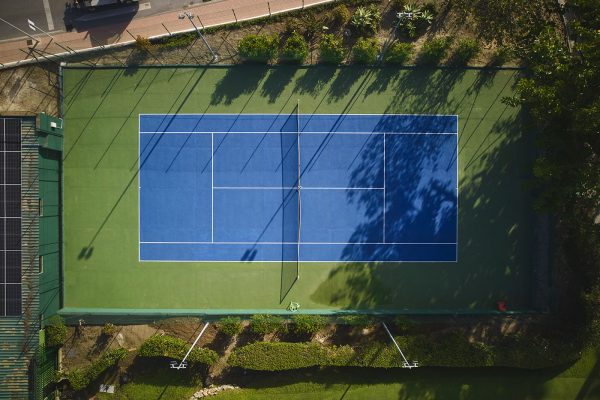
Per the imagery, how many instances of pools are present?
0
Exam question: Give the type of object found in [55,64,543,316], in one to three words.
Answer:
tennis court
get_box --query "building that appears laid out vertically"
[0,113,59,400]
